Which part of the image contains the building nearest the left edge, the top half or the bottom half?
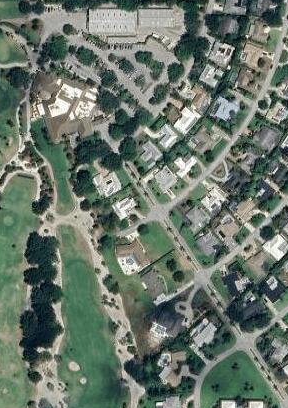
top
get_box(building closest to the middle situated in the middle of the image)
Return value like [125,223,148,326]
[111,195,139,221]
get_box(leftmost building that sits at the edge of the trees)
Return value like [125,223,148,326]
[27,67,97,143]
